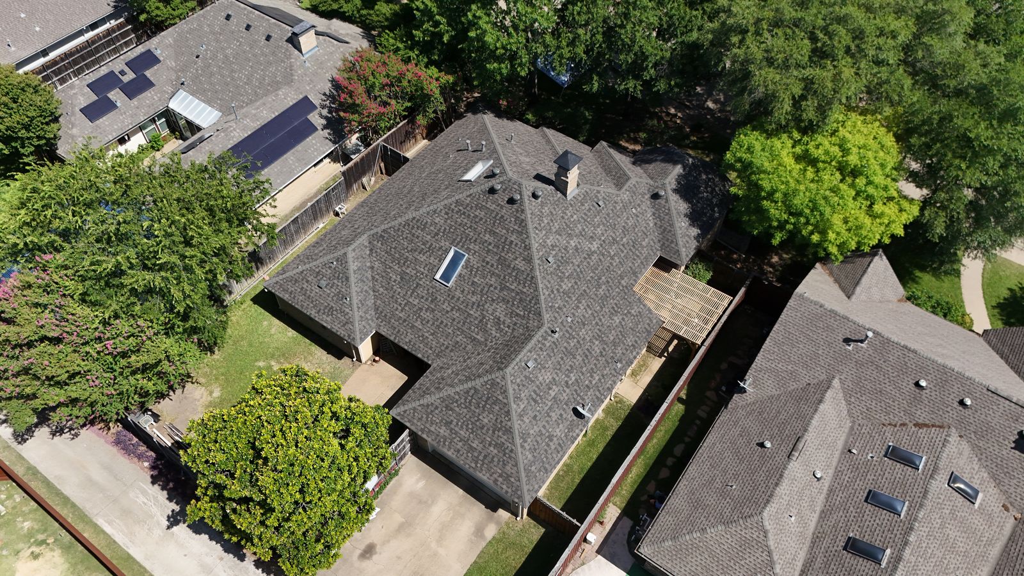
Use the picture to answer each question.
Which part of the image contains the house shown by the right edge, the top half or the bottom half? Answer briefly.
bottom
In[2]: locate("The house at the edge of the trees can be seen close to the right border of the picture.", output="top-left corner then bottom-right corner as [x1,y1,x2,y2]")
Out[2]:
[633,250,1024,576]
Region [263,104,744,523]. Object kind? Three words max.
house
